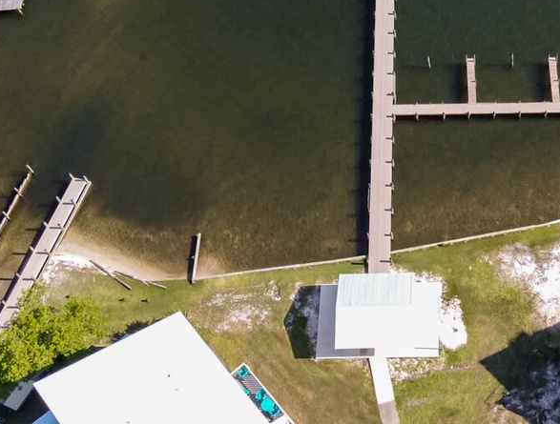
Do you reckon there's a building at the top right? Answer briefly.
No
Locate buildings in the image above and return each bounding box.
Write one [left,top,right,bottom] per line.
[33,311,297,424]
[330,273,413,361]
